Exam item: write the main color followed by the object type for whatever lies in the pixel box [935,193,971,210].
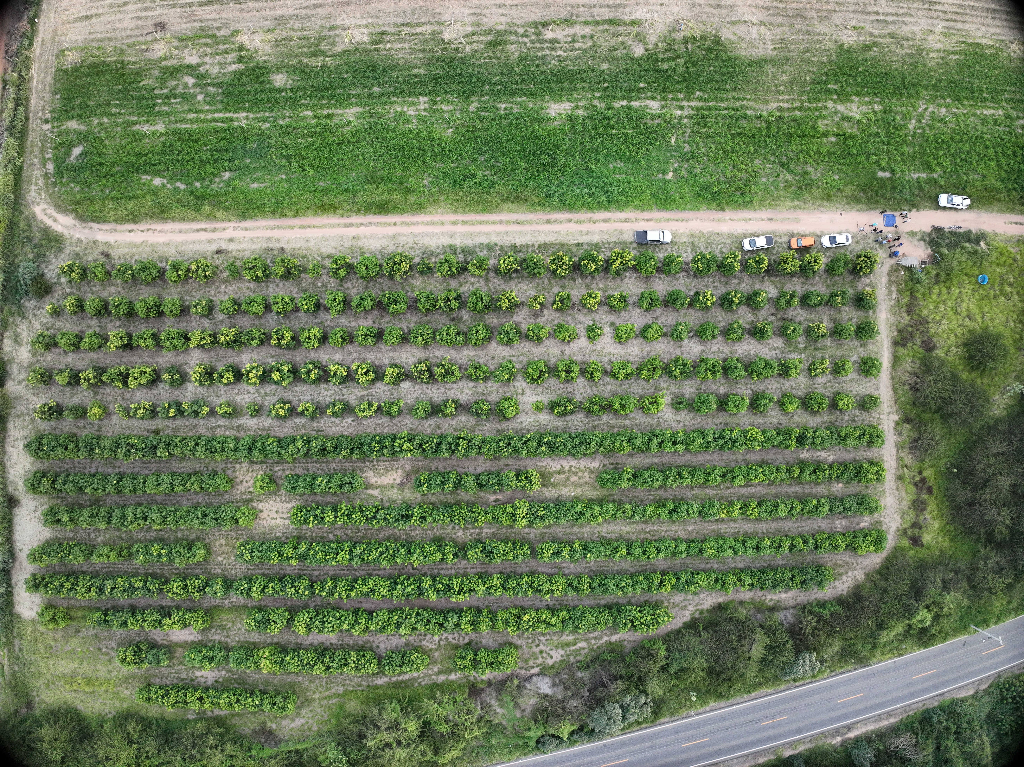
white vehicle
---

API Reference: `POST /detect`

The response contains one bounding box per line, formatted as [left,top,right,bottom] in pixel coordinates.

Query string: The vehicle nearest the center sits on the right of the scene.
[634,229,671,245]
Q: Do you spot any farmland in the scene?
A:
Yes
